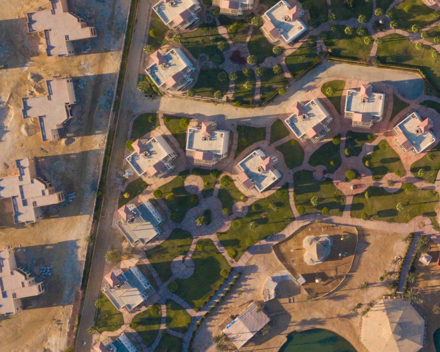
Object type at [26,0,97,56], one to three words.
house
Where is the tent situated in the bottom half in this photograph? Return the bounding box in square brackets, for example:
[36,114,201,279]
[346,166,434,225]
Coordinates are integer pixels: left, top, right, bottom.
[304,235,335,265]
